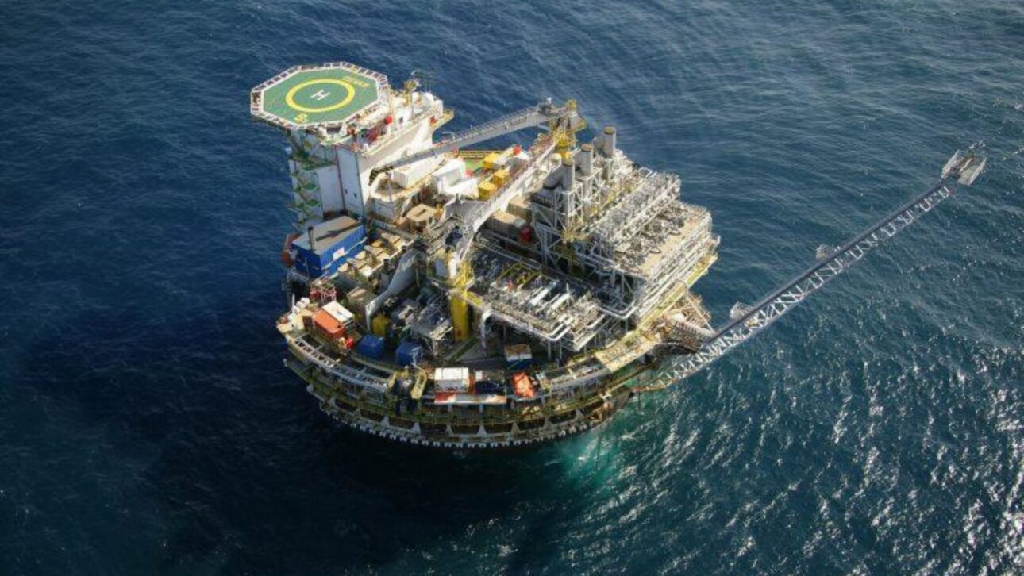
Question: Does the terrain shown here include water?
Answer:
Yes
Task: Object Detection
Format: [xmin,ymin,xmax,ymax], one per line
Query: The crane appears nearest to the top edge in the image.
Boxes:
[380,93,587,217]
